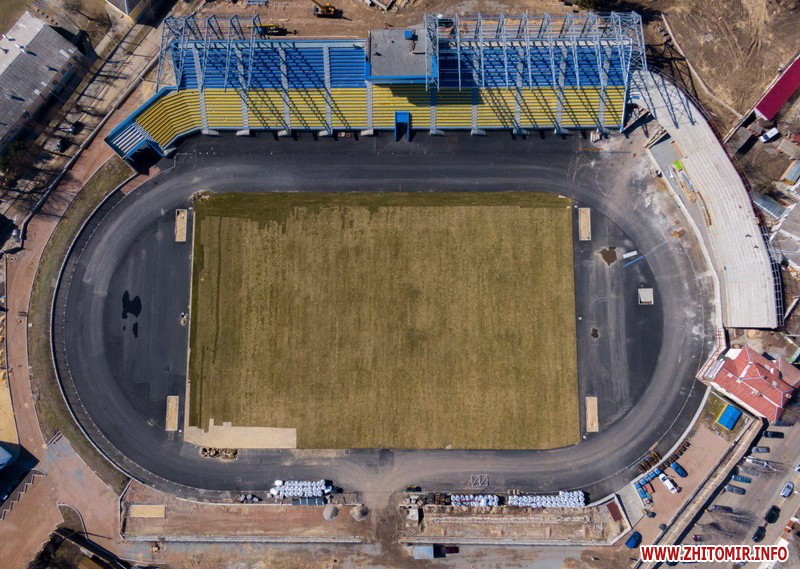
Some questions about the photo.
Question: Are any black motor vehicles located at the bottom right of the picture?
Yes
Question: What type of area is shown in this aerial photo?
sports ground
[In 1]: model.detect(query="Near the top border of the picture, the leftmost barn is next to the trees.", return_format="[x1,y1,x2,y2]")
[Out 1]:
[0,13,84,156]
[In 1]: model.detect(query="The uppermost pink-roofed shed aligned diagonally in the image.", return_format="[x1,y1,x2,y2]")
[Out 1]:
[748,54,800,119]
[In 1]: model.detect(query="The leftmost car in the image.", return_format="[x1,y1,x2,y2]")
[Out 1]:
[7,224,20,244]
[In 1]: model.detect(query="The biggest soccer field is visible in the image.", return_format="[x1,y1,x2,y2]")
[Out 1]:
[184,194,580,449]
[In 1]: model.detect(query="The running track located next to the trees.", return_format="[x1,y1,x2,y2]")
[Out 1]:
[52,116,721,506]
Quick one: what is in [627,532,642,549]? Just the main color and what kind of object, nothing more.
blue car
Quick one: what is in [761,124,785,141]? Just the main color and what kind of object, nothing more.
white vehicle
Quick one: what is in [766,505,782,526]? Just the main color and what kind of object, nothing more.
black car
